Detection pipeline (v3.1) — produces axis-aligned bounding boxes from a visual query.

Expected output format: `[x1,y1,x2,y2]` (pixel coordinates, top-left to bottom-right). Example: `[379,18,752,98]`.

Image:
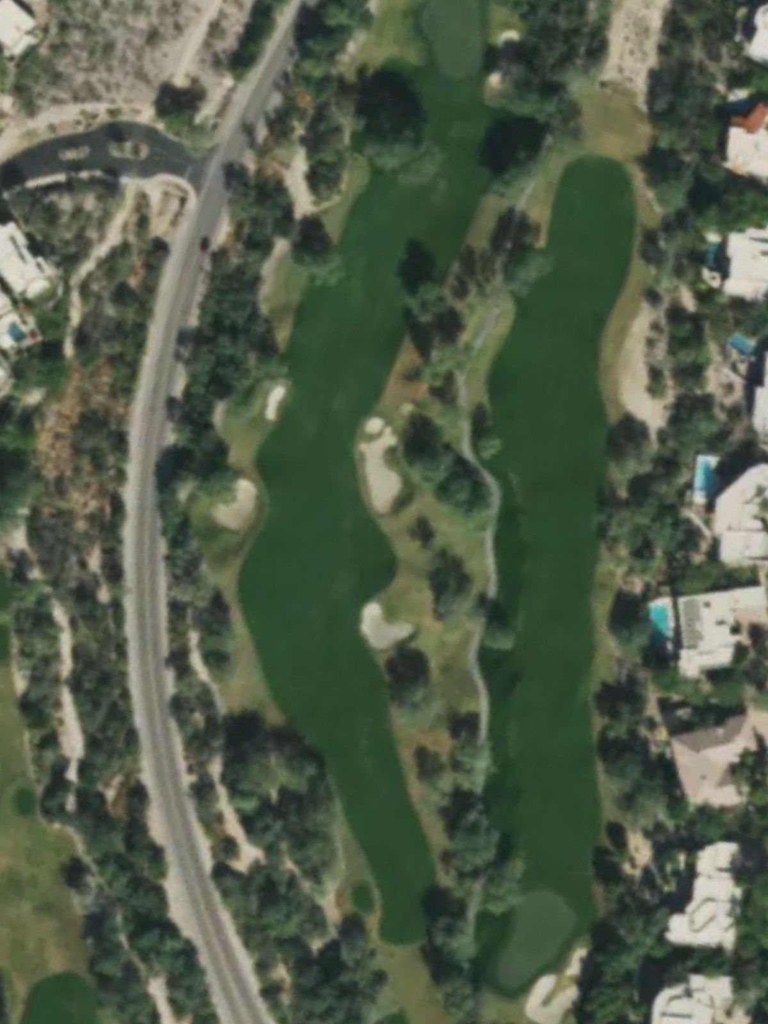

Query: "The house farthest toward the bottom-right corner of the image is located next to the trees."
[652,975,752,1024]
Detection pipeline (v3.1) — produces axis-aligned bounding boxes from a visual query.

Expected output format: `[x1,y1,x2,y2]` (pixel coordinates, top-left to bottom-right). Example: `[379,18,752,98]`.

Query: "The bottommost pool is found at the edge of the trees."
[649,596,677,648]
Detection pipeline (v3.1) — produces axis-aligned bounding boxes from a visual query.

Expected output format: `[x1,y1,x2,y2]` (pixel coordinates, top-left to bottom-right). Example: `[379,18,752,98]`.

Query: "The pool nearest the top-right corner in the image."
[704,234,721,267]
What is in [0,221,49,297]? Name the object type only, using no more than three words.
house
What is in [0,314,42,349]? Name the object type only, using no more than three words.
swimming pool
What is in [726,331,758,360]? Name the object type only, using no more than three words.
swimming pool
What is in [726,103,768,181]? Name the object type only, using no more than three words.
house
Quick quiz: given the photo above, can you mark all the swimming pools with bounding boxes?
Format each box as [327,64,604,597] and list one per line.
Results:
[0,314,42,349]
[704,234,721,267]
[649,596,677,648]
[693,455,719,504]
[726,331,758,360]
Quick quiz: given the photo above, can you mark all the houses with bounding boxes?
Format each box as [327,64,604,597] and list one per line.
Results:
[726,103,768,181]
[0,0,37,56]
[753,352,768,442]
[672,714,758,808]
[666,842,743,953]
[678,586,768,679]
[723,227,768,301]
[749,1,768,62]
[714,464,768,566]
[652,975,752,1024]
[0,292,15,320]
[0,221,49,297]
